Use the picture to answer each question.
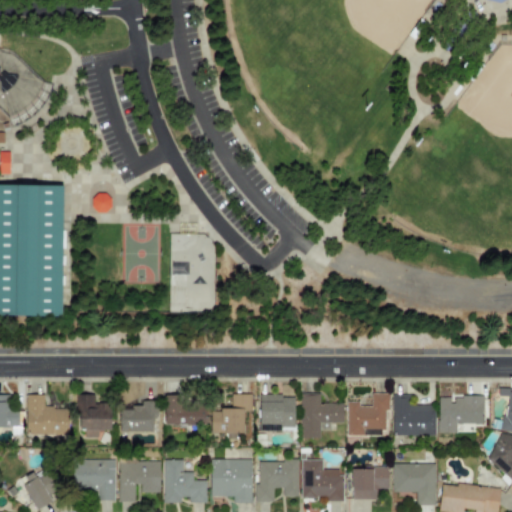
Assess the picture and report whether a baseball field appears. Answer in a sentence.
Yes, there's a baseball field down there.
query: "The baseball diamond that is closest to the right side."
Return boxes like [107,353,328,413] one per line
[341,44,512,256]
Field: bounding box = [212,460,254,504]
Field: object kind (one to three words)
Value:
house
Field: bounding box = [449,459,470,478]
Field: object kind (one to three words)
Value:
swimming pool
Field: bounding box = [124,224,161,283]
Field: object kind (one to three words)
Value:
basketball court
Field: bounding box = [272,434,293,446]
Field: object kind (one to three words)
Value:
swimming pool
